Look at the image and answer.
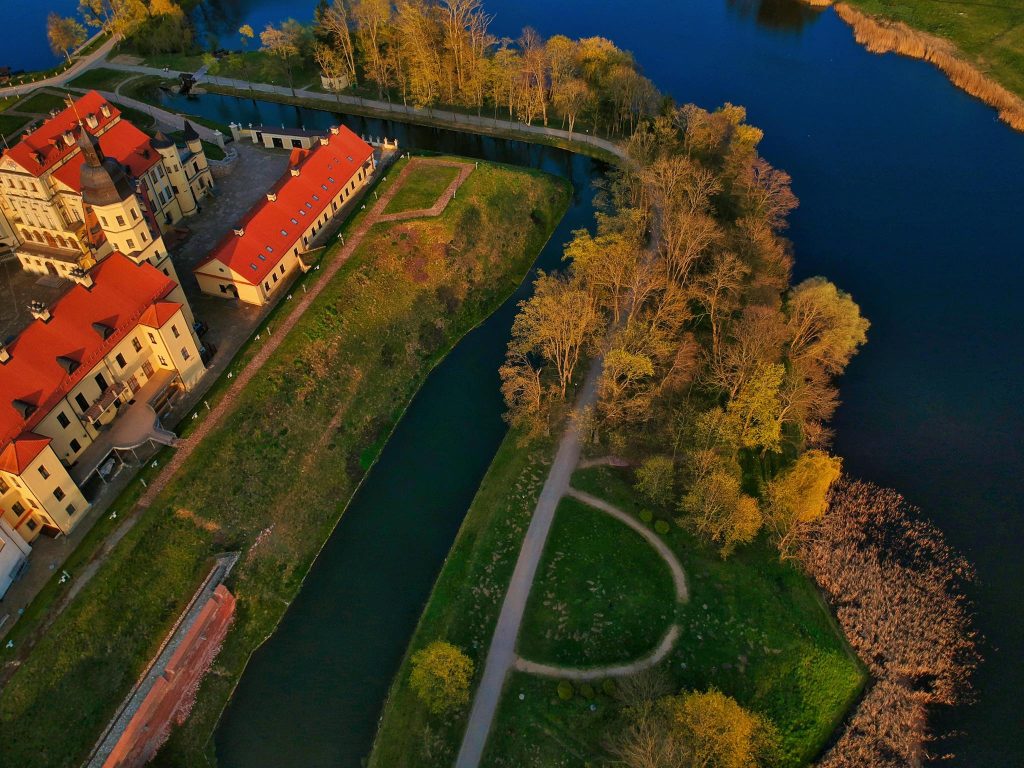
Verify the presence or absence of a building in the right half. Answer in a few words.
No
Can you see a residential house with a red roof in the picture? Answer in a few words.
Yes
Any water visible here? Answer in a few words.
Yes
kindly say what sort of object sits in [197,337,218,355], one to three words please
car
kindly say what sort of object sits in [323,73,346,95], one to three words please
building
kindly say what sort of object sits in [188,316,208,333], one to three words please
car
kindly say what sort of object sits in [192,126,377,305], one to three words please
house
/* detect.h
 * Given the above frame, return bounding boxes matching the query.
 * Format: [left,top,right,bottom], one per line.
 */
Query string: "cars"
[188,316,208,333]
[197,337,218,355]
